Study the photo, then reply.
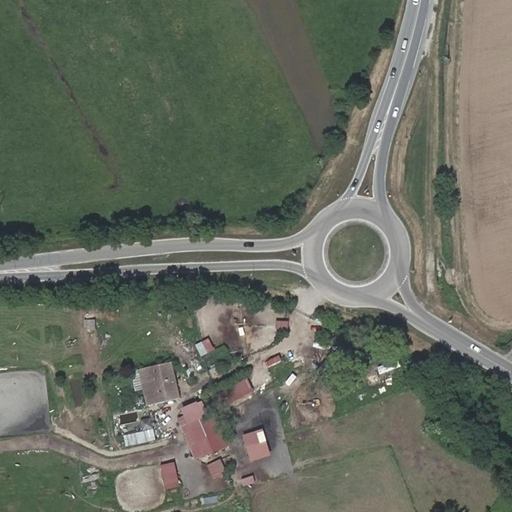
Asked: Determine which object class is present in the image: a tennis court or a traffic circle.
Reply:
traffic circle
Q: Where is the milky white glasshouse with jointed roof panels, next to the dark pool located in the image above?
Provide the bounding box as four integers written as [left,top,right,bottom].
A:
[123,428,156,446]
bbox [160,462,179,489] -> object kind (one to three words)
shed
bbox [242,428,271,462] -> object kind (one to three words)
barn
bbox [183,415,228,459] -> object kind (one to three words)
house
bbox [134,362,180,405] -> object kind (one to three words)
barn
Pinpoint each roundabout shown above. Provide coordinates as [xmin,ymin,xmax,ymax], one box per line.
[302,196,410,307]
